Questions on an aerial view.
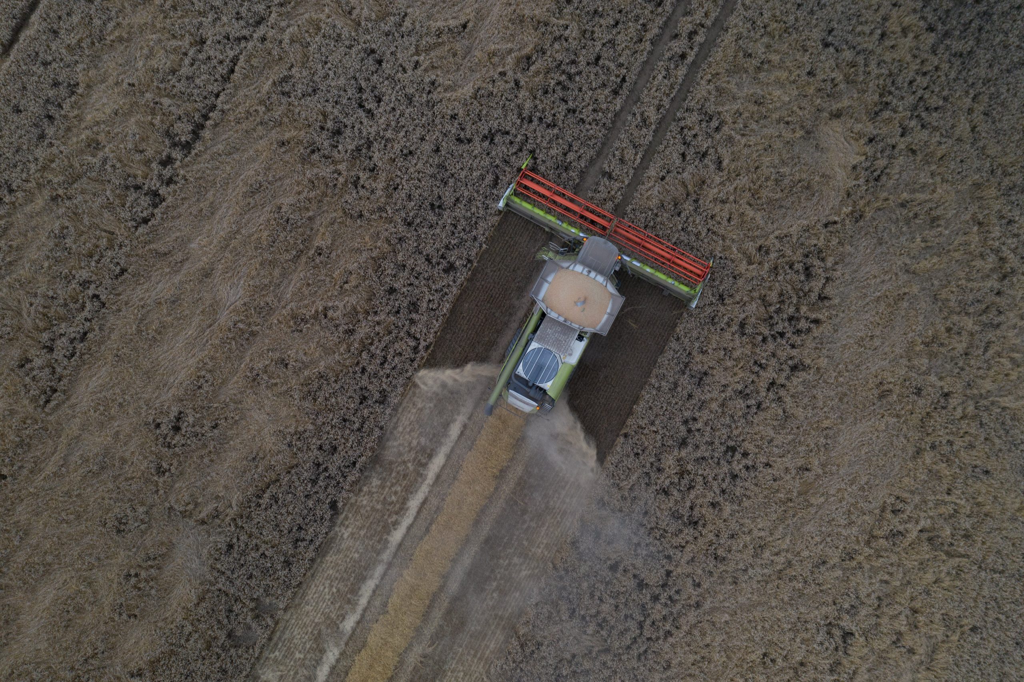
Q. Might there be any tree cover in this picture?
No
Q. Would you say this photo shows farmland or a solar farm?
farmland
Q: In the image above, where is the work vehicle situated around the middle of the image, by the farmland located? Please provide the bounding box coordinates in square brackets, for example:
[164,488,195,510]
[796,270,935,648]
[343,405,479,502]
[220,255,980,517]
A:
[485,155,714,421]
